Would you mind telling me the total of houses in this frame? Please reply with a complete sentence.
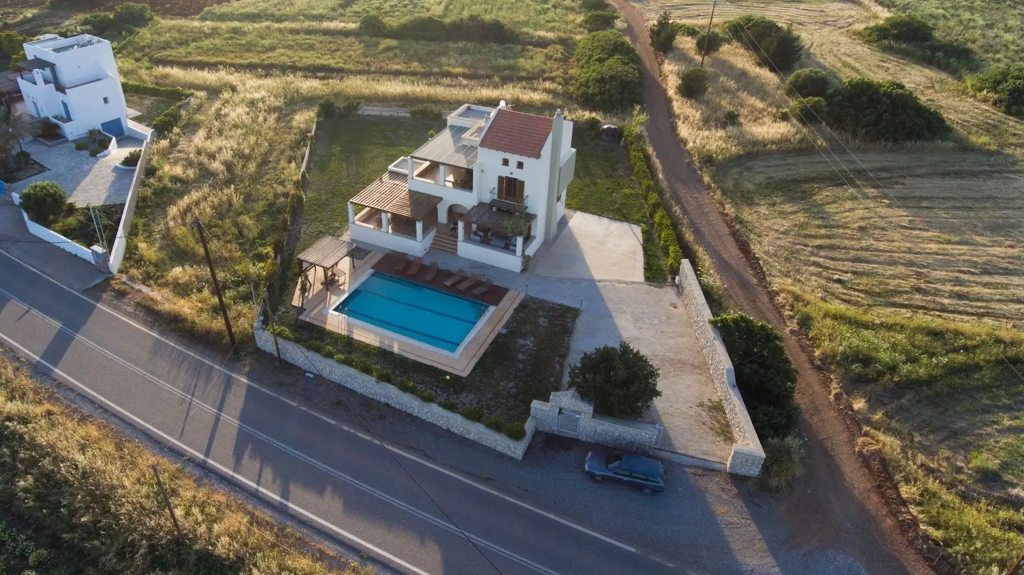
The photo contains 2 houses.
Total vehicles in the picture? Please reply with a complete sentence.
Just 1 vehicle appears in this view.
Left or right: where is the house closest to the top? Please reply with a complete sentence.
The house closest to the top appears in the left half of the scene.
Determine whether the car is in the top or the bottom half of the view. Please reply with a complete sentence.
The bottom half of the photo is where the car is.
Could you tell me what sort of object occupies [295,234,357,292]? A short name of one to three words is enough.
gazebo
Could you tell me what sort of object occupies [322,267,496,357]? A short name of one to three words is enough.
swimming pool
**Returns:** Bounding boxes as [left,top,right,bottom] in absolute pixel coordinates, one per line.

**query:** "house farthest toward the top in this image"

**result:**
[15,31,129,157]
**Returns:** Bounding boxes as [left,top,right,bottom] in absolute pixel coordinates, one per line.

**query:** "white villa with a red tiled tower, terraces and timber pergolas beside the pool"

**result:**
[347,104,576,272]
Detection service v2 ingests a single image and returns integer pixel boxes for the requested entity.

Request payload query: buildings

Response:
[15,31,129,157]
[347,104,576,272]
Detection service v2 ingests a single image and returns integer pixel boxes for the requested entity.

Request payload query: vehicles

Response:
[583,449,670,497]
